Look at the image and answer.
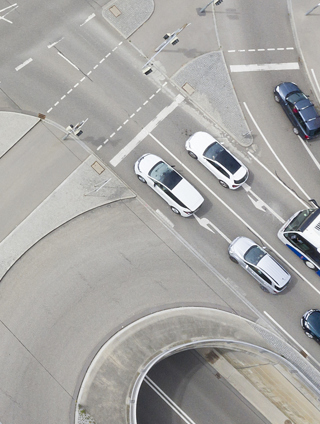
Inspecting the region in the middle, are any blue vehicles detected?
No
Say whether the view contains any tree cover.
No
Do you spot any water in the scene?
No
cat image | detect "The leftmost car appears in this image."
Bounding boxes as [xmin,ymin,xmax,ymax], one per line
[131,160,205,223]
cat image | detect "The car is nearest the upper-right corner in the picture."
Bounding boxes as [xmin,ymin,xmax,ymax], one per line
[272,81,320,146]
